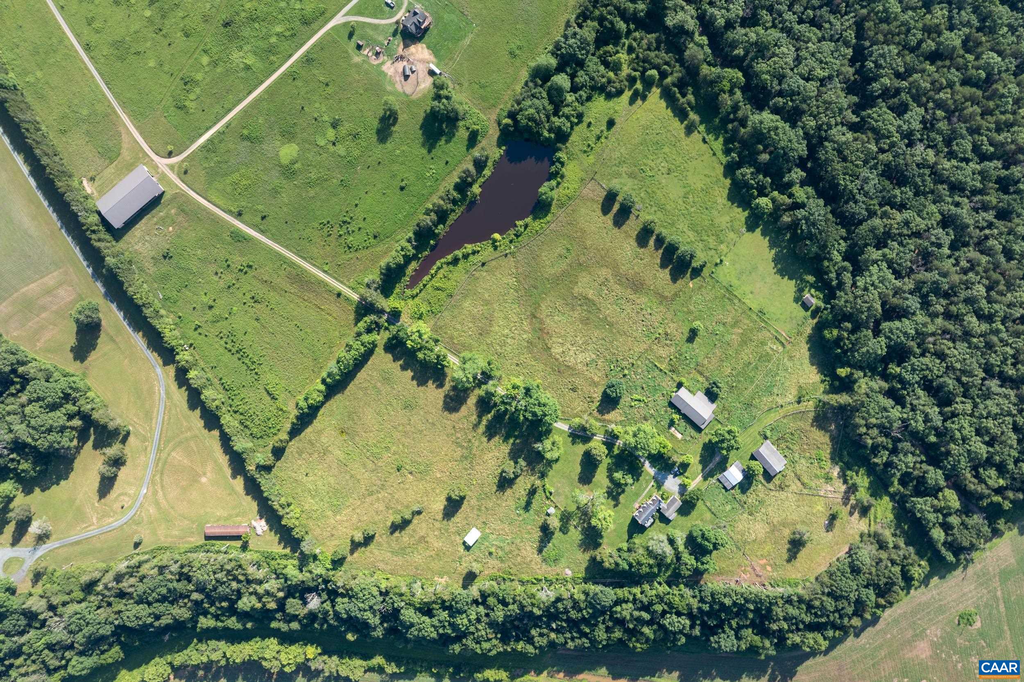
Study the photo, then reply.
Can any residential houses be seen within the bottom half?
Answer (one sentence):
Yes, a residential house can be seen within the bottom half.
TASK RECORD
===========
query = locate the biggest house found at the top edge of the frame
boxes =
[403,8,432,37]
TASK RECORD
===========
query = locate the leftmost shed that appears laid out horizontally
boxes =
[205,524,250,536]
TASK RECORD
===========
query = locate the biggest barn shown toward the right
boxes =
[670,387,717,429]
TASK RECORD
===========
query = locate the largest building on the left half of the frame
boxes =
[96,164,167,229]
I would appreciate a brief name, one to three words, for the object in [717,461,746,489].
shed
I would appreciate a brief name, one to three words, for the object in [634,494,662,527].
house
